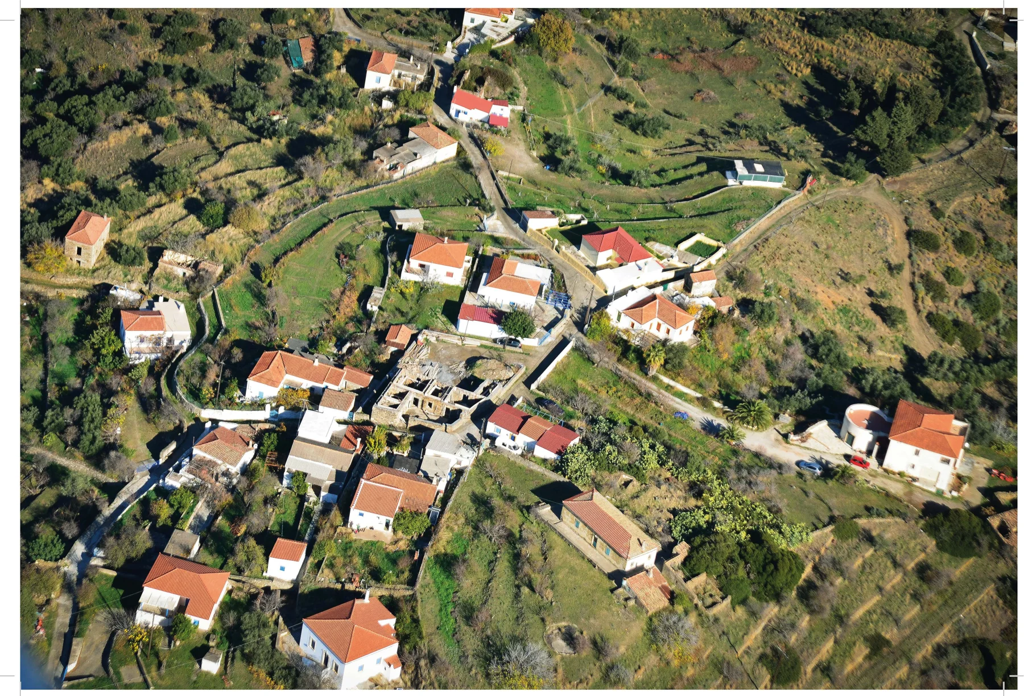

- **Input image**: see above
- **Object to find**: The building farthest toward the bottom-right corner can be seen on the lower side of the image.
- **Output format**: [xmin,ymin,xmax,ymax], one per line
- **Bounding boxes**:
[987,504,1024,557]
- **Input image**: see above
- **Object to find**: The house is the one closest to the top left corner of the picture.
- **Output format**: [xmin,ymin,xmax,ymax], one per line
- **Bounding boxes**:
[65,211,120,268]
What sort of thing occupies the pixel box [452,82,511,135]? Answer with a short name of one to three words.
house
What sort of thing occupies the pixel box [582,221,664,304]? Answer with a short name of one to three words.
house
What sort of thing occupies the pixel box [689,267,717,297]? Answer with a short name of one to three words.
barn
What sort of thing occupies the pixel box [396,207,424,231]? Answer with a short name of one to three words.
shed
